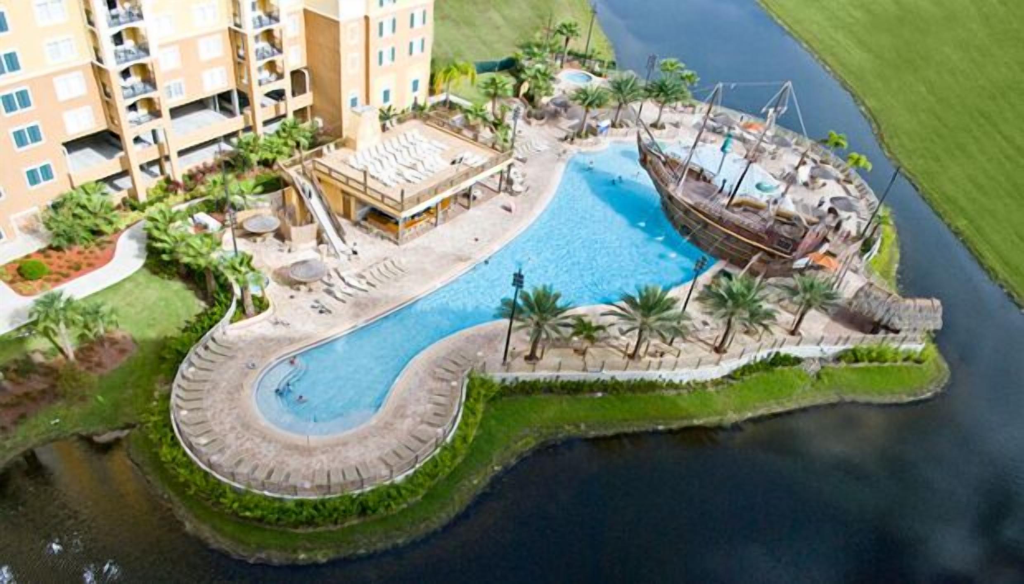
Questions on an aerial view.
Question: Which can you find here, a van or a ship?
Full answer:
I can see a ship in this picture.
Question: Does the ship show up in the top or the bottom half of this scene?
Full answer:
The ship sits in the top half of the picture.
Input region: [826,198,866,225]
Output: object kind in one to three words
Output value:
umbrella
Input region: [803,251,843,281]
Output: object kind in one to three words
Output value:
umbrella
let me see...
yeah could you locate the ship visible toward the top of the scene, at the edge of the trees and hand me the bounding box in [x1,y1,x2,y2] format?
[636,86,835,280]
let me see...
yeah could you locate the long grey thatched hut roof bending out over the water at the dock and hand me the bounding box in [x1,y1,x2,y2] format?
[839,279,946,346]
